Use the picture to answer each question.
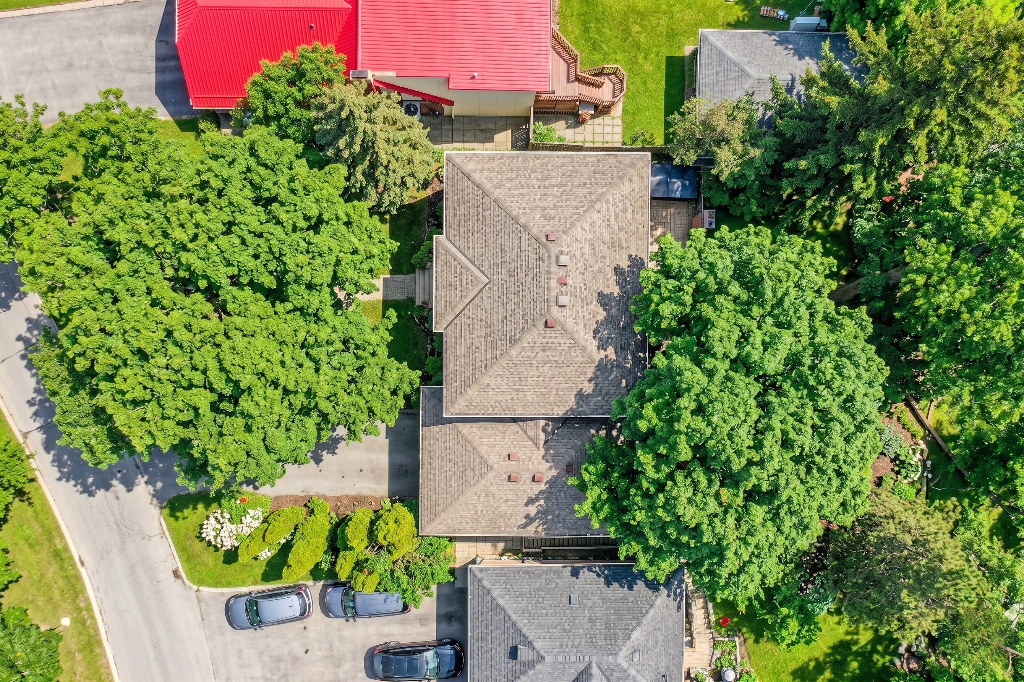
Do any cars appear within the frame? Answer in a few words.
Yes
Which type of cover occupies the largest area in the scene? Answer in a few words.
trees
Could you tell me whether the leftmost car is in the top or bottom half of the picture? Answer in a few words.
bottom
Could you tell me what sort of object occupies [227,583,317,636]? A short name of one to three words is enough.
car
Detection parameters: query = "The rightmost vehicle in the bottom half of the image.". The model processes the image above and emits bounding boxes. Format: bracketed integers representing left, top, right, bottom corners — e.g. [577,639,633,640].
[372,637,463,682]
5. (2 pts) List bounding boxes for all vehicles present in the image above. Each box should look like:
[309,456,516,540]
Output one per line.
[227,583,317,636]
[372,637,463,682]
[323,579,415,627]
